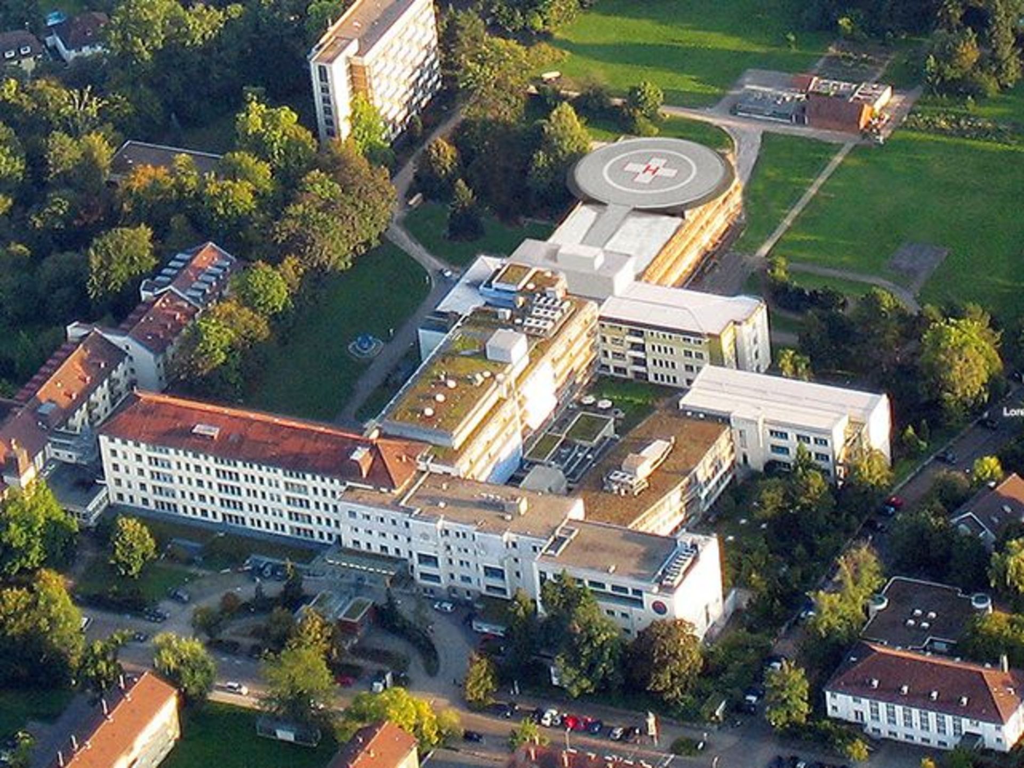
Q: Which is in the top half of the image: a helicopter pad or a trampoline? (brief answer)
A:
helicopter pad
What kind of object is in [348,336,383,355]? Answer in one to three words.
fountain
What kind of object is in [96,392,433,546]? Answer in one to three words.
building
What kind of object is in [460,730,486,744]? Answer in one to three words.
car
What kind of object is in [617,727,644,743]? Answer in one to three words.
car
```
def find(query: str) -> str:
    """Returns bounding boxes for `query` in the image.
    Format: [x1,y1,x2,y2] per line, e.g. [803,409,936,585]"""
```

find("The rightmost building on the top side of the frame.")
[805,77,895,145]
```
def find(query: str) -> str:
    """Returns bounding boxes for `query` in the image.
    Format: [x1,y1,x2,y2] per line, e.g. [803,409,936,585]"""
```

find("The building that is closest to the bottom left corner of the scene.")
[46,664,183,768]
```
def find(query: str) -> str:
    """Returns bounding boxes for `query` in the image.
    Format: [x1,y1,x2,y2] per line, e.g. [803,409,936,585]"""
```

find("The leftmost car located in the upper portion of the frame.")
[436,266,458,280]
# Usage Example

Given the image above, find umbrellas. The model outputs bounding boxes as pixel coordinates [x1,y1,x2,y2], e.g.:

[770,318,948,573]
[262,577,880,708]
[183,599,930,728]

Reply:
[579,396,597,412]
[596,400,614,415]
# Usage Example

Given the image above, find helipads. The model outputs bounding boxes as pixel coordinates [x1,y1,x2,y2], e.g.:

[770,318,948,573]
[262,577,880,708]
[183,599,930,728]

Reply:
[568,137,734,248]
